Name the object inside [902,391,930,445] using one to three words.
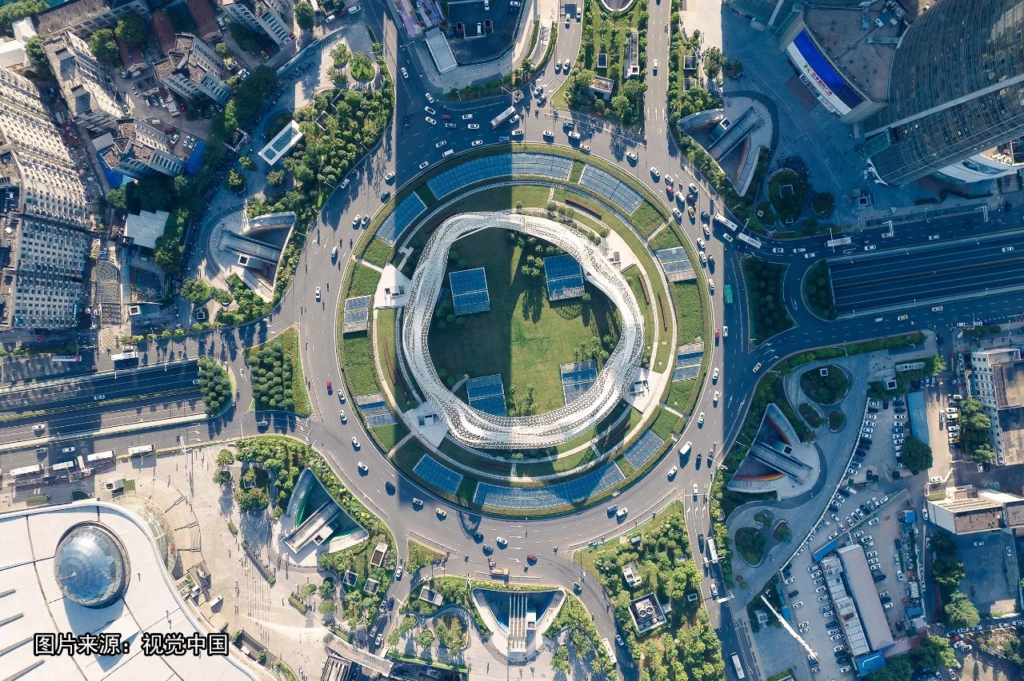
shed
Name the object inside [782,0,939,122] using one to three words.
building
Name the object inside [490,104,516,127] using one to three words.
bus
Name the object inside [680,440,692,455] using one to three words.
vehicle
